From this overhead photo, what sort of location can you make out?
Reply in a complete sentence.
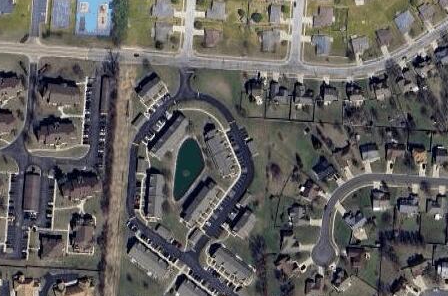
This image shows a residential area.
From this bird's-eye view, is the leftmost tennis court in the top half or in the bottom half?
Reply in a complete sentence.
The leftmost tennis court is in the top half of the image.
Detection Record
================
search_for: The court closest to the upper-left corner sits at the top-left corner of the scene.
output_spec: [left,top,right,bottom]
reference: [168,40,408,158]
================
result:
[52,0,71,28]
